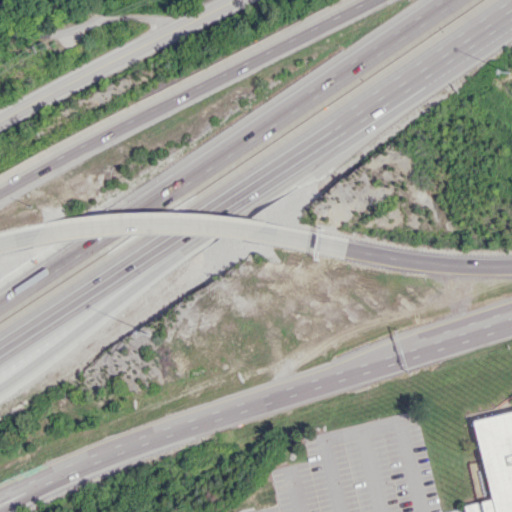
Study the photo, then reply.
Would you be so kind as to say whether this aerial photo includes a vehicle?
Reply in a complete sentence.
Yes, you can see a vehicle in this photo.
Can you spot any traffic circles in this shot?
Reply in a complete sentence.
No, the picture doesn't show any traffic circle.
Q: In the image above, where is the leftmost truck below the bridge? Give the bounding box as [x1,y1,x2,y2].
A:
[8,270,49,299]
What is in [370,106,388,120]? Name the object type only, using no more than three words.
vehicle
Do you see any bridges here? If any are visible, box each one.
[0,212,349,260]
